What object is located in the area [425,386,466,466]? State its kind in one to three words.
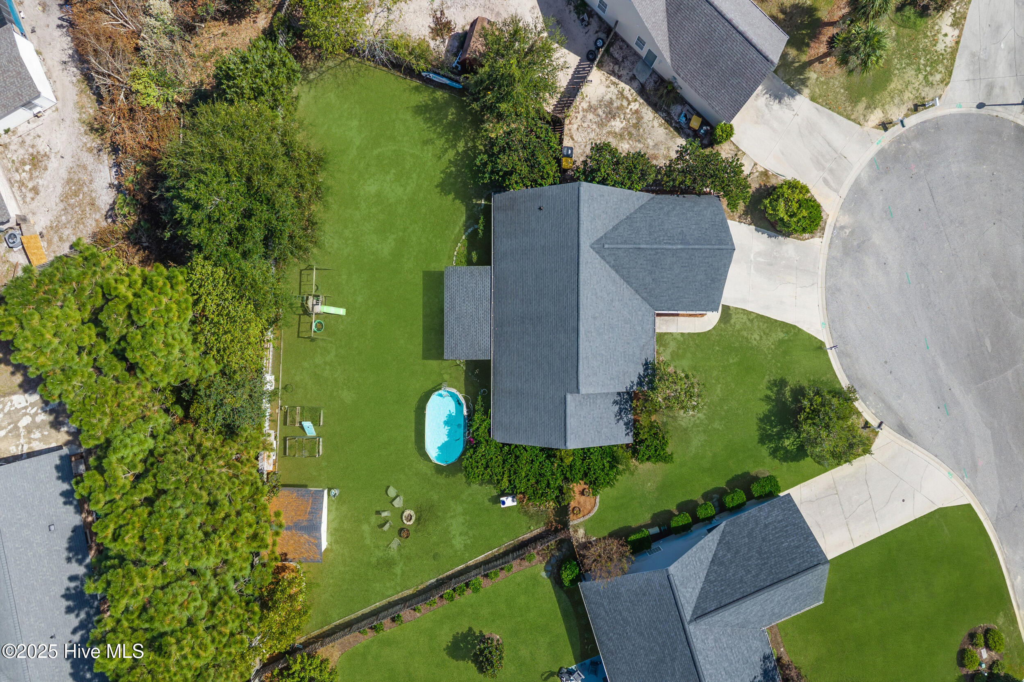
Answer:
swimming pool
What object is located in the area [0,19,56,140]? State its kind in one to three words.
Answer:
house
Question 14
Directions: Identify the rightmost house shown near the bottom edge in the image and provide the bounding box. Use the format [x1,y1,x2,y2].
[577,495,829,682]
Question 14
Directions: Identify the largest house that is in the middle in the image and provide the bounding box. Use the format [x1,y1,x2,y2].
[444,183,735,450]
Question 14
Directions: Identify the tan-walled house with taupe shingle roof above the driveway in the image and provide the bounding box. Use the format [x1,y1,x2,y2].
[595,0,790,126]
